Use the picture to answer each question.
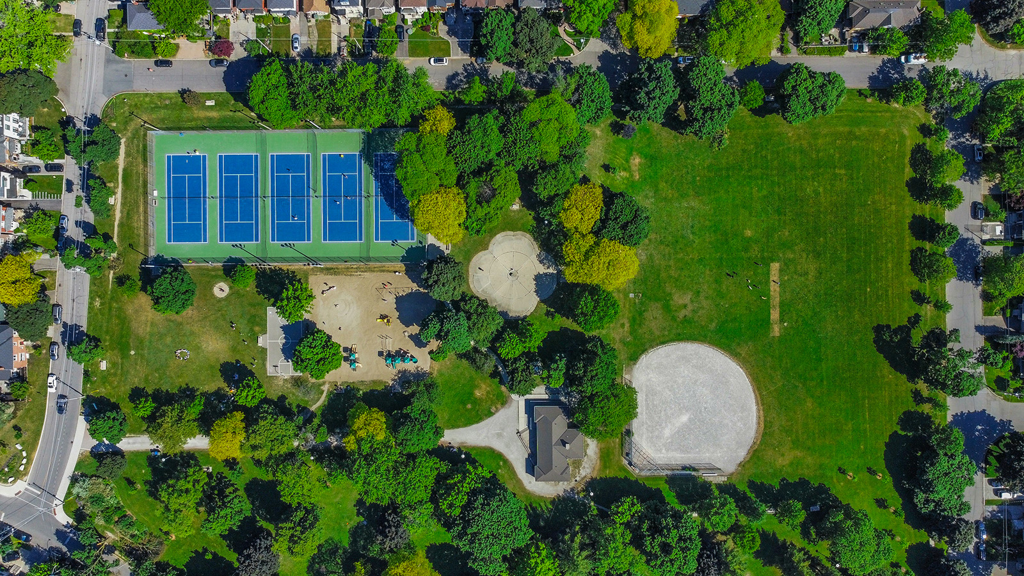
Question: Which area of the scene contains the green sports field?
right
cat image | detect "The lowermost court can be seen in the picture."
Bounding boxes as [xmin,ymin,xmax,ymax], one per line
[267,307,302,375]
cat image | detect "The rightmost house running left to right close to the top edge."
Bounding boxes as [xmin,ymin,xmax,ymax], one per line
[844,0,921,34]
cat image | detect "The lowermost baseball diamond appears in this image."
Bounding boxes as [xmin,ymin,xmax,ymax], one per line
[624,340,760,476]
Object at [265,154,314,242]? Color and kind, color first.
blue tennis court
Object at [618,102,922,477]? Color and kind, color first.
green sports field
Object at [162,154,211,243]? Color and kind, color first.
blue tennis court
